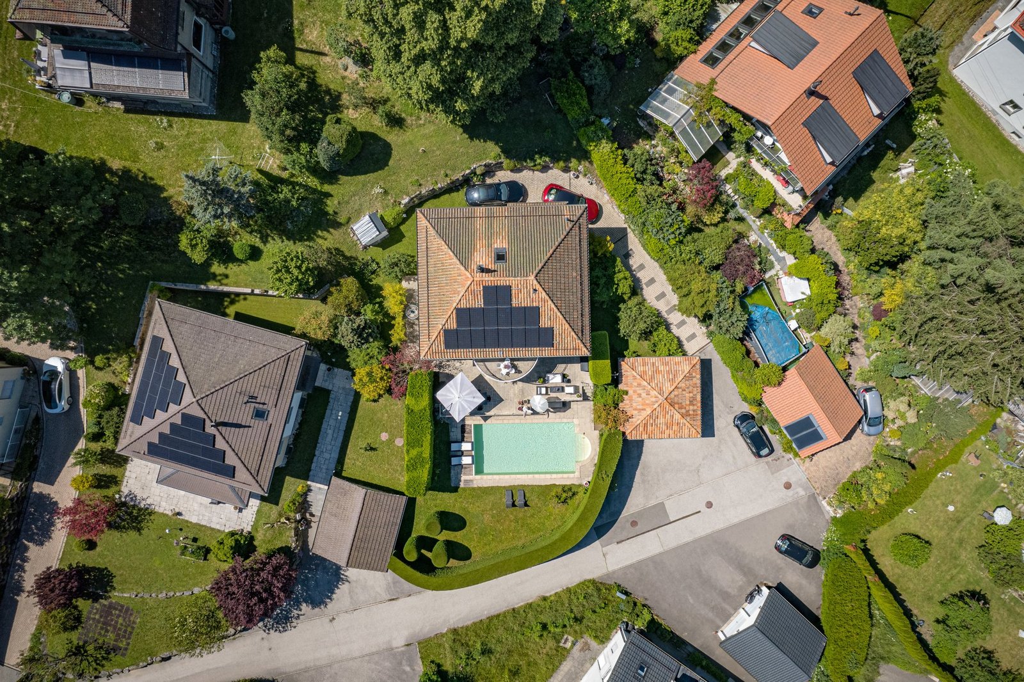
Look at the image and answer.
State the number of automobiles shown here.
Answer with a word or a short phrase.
6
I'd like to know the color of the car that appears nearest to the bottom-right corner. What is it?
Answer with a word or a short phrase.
black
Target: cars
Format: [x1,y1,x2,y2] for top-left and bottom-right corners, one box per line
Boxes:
[42,358,72,412]
[465,178,527,206]
[770,532,821,569]
[542,184,600,221]
[730,410,777,462]
[855,384,887,437]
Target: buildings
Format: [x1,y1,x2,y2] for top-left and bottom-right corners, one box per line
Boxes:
[756,346,864,458]
[311,477,408,572]
[632,0,913,228]
[949,0,1024,162]
[115,299,325,510]
[352,213,390,248]
[573,617,719,682]
[618,356,704,441]
[6,0,228,106]
[415,201,592,383]
[711,577,828,682]
[0,365,25,473]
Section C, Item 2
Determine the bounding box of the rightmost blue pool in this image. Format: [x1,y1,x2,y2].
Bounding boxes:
[736,281,809,366]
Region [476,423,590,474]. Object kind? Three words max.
swimming pool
